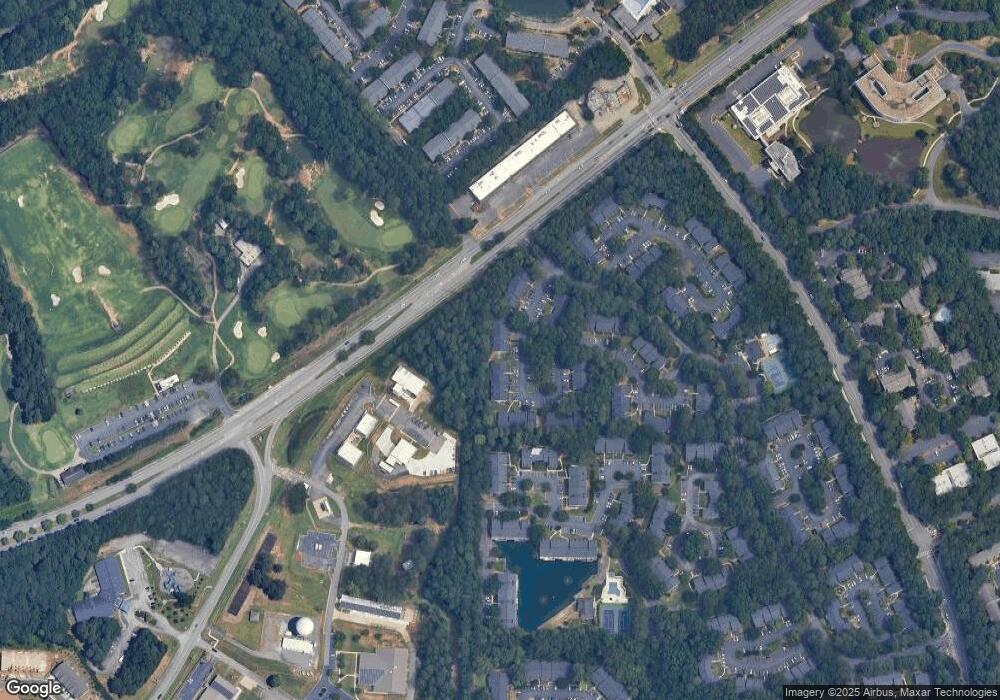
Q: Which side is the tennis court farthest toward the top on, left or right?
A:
right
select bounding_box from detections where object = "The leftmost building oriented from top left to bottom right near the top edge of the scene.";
[300,6,354,67]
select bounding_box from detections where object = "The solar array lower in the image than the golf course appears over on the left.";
[341,602,400,620]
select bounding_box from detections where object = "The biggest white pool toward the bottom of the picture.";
[602,573,628,602]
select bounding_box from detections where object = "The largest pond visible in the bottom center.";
[497,539,598,636]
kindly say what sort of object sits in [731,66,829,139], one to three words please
building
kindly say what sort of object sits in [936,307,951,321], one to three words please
swimming pool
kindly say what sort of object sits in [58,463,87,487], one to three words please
shed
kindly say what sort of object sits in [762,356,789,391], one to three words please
tennis court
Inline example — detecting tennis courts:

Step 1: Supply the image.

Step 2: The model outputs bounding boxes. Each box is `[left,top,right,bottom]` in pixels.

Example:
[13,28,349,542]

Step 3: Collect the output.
[617,607,631,634]
[602,607,616,634]
[762,356,789,391]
